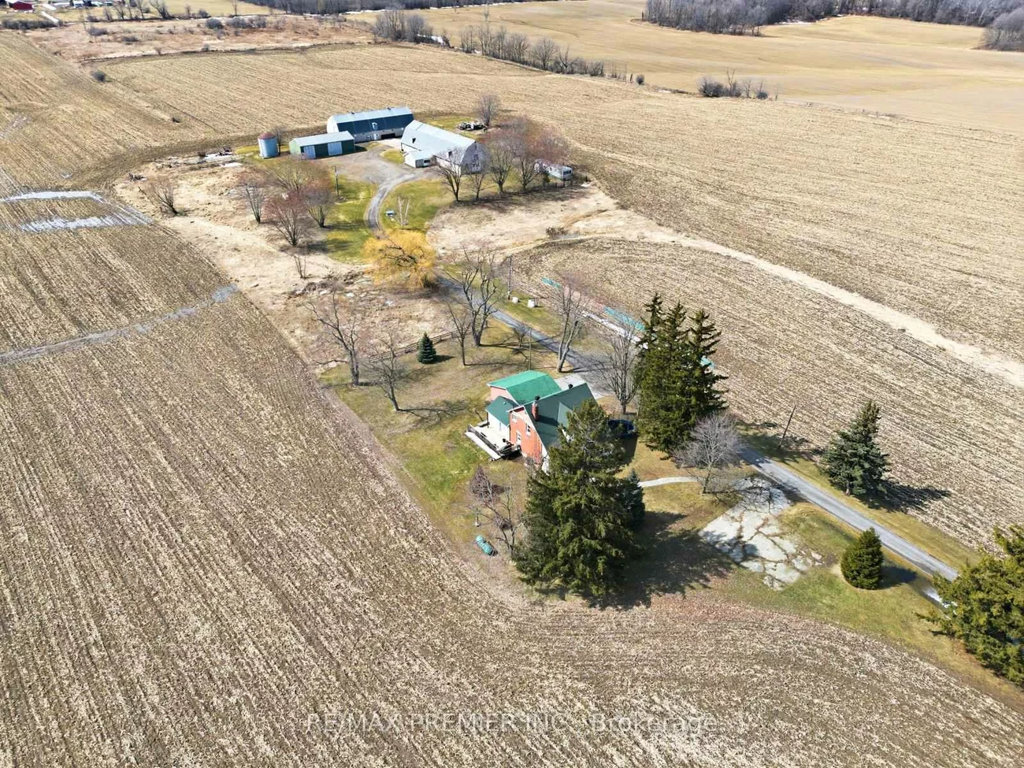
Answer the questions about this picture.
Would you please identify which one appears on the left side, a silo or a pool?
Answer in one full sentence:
Looking on the left side, you will find a silo.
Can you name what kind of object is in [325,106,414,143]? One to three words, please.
barn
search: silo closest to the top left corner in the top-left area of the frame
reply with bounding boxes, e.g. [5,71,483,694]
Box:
[257,129,281,157]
